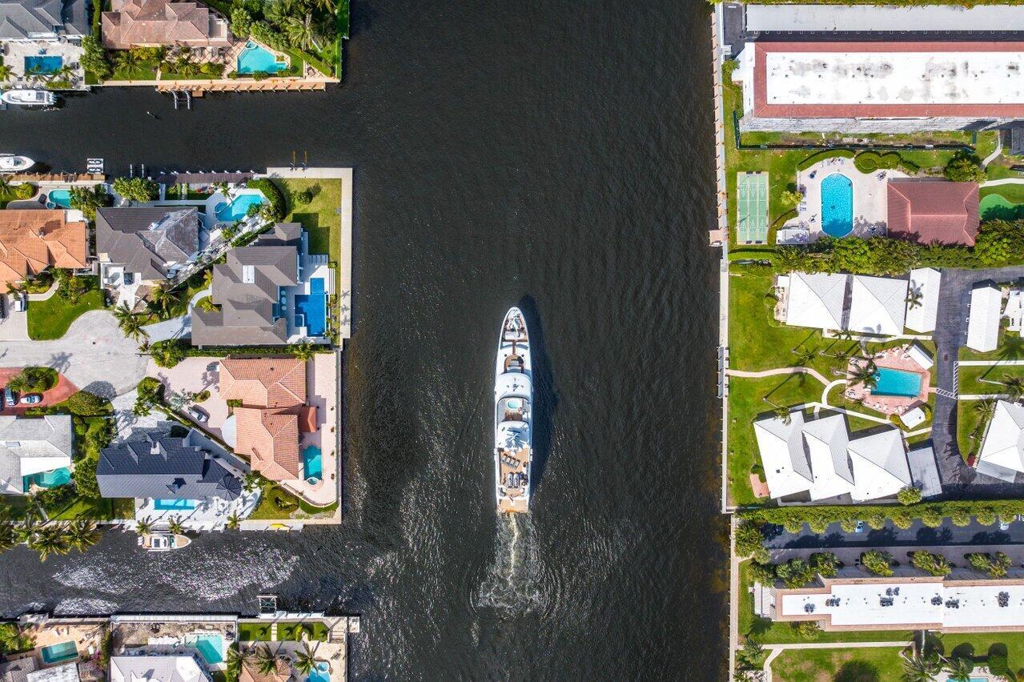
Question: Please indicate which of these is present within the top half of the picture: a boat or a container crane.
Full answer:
Looking within the top half of the picture, you will find a boat.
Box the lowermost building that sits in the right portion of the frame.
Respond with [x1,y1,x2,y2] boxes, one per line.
[753,572,1024,633]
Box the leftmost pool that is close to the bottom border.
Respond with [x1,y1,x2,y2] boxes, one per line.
[40,640,80,665]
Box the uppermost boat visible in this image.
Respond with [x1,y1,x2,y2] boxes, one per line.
[3,91,59,107]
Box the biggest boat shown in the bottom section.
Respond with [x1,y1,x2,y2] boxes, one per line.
[493,308,534,513]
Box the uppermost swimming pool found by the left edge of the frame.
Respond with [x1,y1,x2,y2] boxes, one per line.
[23,54,63,75]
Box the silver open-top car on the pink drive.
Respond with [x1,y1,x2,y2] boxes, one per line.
[187,406,208,422]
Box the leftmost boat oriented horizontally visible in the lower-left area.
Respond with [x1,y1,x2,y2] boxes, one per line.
[141,532,195,548]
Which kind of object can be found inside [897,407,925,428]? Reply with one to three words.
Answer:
shed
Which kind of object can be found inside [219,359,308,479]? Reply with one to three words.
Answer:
house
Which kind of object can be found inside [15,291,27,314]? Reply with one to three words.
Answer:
vehicle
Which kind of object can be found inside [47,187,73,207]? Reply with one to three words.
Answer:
swimming pool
